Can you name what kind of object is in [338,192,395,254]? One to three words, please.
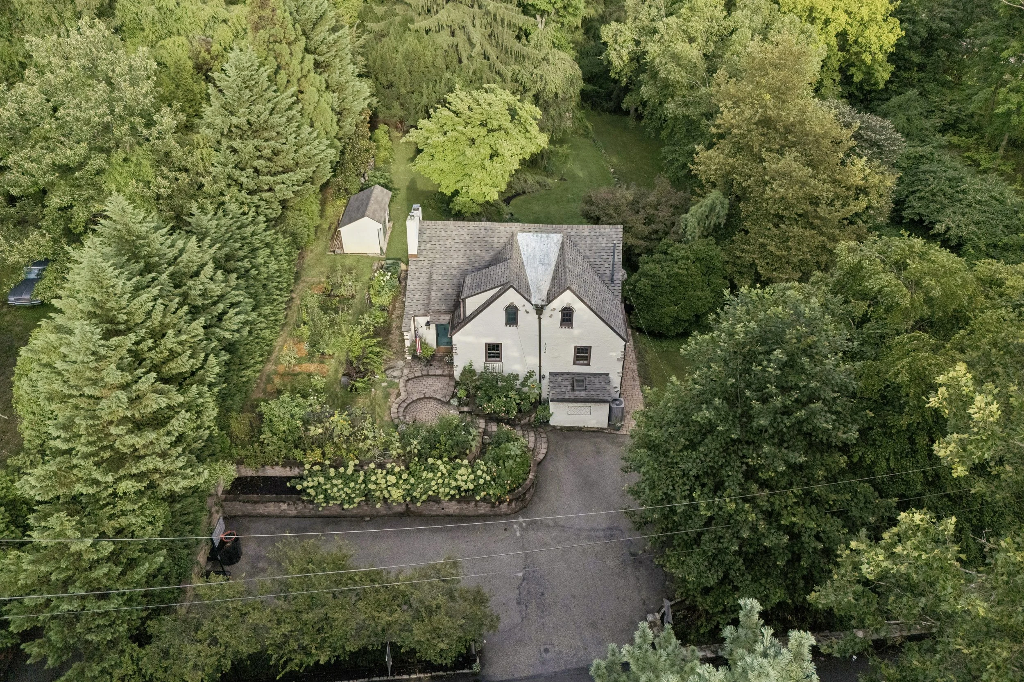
shed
